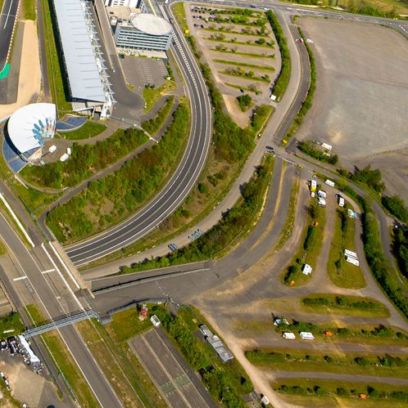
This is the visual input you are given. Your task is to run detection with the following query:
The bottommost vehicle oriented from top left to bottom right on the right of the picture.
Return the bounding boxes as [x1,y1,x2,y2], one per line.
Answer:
[258,389,274,408]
